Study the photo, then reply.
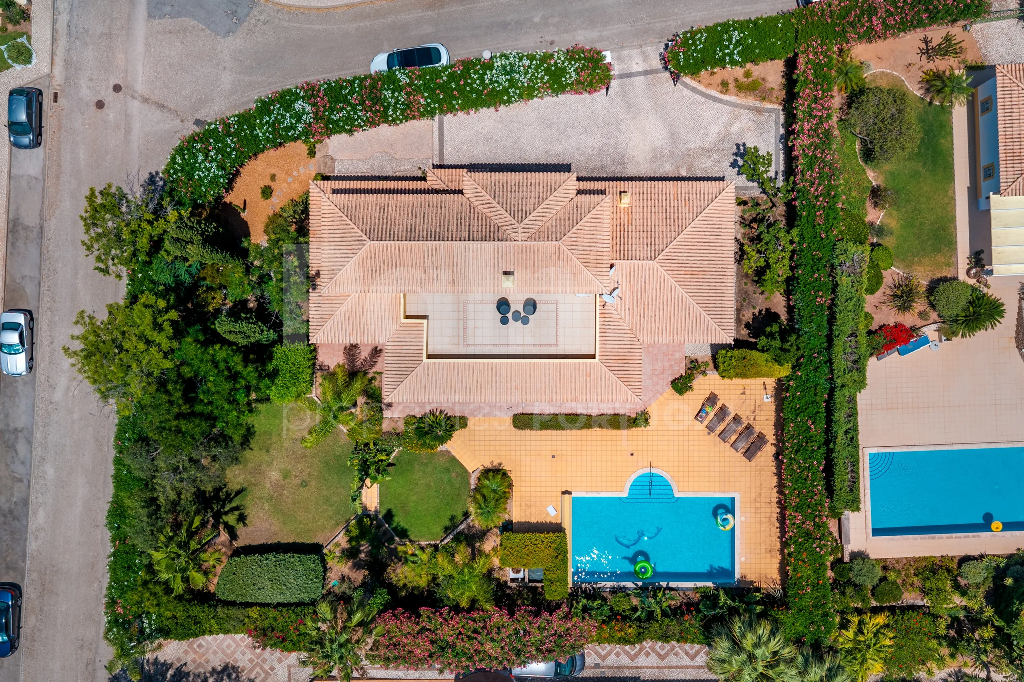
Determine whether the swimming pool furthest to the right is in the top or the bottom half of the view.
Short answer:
bottom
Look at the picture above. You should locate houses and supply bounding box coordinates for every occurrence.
[975,63,1024,220]
[308,167,737,404]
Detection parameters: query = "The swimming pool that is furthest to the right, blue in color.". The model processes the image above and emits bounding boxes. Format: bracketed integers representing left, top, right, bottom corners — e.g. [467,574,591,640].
[864,442,1024,543]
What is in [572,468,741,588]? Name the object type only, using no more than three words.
swimming pool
